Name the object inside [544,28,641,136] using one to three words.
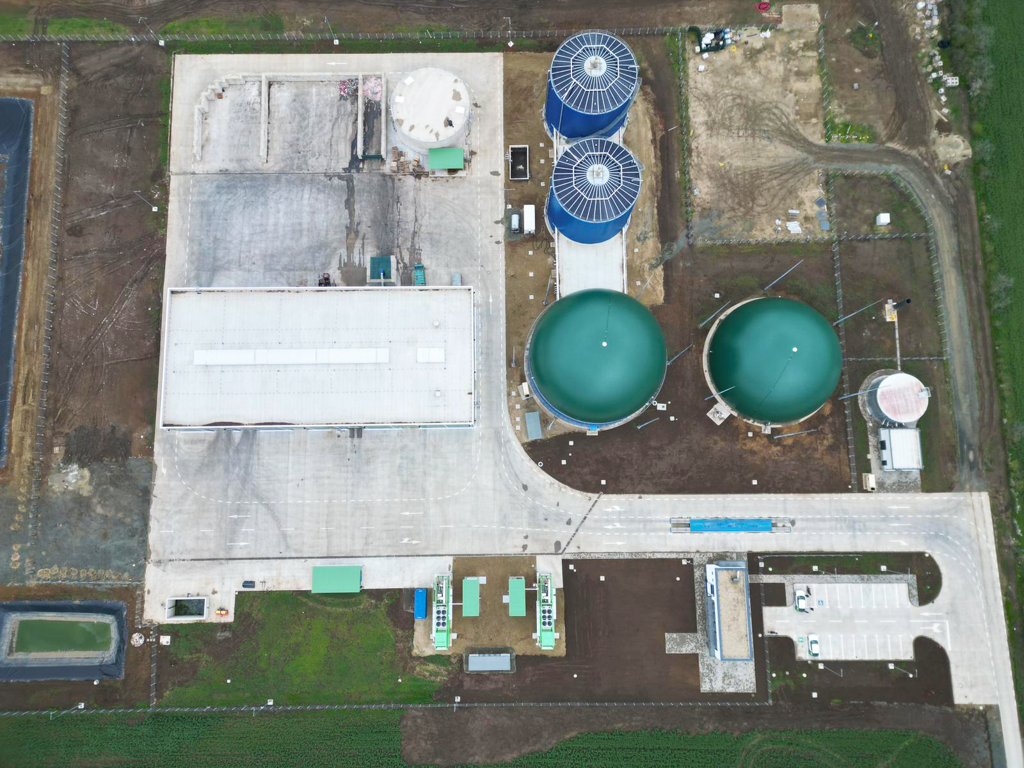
storage tank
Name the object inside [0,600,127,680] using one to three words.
pond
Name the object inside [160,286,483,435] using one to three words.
building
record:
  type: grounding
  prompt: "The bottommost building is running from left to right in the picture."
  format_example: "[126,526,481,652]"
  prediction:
[468,651,511,671]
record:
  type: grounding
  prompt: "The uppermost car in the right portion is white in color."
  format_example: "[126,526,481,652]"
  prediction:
[795,590,810,612]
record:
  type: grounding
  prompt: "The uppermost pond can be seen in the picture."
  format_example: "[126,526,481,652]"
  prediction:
[0,98,34,466]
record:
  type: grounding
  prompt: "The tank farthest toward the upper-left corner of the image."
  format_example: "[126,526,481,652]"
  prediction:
[390,68,475,156]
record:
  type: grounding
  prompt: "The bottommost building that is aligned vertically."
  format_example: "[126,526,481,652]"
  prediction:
[701,559,753,661]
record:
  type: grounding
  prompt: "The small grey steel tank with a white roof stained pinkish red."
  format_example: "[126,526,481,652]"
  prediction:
[866,372,936,427]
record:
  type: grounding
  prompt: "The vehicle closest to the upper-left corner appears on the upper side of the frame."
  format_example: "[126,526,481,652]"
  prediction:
[319,273,333,288]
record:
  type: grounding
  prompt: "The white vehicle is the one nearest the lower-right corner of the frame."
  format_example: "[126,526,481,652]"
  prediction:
[807,635,819,657]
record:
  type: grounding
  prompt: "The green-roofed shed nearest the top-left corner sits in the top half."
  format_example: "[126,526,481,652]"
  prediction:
[430,141,470,178]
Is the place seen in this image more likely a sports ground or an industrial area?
industrial area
